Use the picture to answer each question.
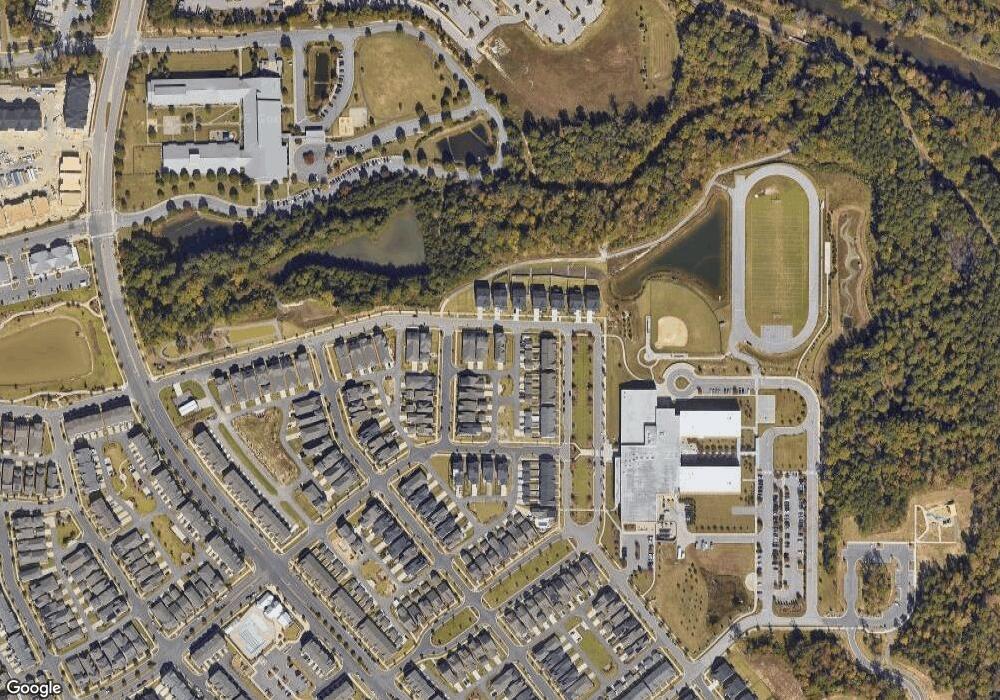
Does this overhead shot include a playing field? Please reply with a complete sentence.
Yes, the photo shows a playing field.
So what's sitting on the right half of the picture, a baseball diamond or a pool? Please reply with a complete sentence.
There is a baseball diamond on the right half of the picture.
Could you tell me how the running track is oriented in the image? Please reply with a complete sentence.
From this overhead view, the running track appears to run up and down.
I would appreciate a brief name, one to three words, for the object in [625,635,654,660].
house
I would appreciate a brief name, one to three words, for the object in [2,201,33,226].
building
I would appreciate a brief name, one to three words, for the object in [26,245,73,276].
building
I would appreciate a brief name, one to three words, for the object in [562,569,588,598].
house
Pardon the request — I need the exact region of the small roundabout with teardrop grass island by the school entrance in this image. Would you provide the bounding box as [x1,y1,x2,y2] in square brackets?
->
[662,363,700,400]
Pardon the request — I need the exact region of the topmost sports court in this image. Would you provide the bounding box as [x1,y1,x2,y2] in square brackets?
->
[758,395,775,424]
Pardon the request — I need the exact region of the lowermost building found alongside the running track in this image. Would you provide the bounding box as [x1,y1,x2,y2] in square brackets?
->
[615,390,742,523]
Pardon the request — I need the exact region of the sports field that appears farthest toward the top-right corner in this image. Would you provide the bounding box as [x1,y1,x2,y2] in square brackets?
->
[746,176,809,336]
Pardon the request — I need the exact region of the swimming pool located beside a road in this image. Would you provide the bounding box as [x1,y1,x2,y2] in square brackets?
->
[223,599,283,660]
